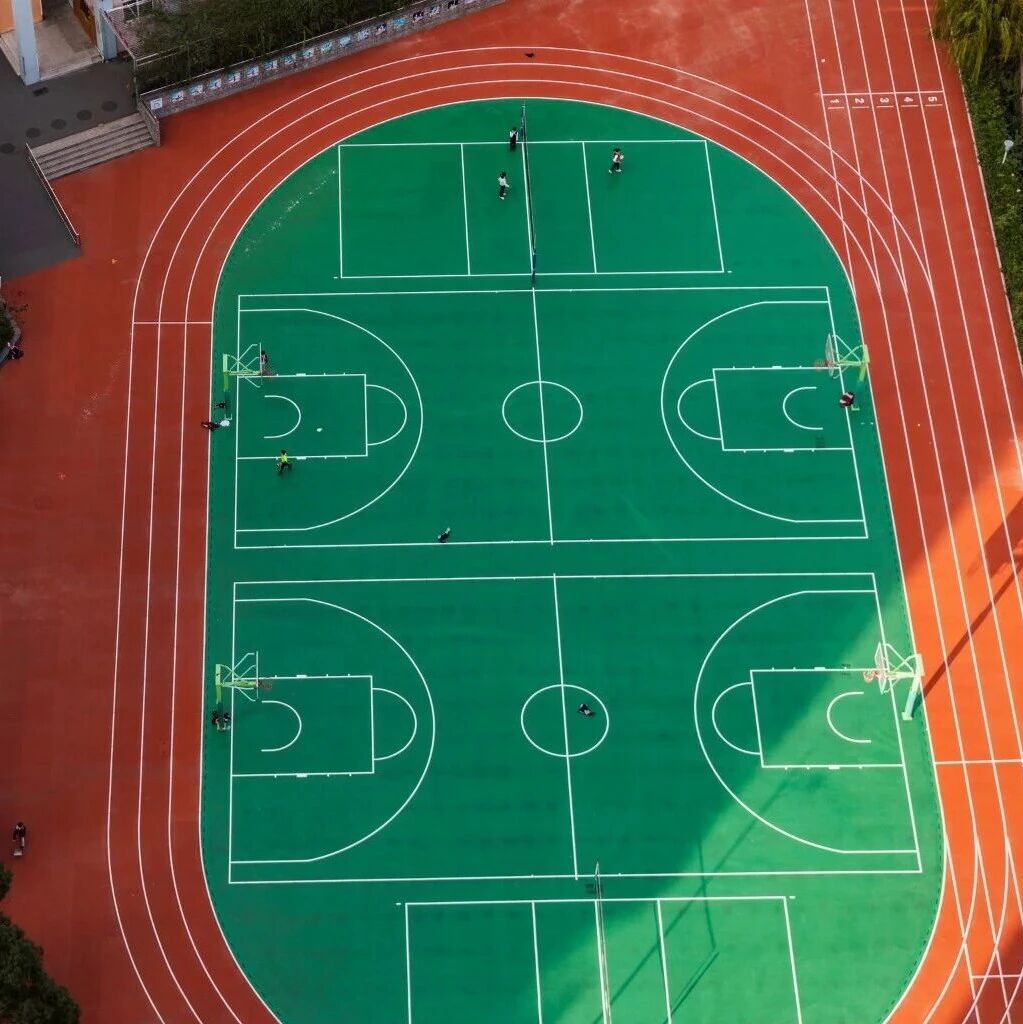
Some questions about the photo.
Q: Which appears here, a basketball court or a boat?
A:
basketball court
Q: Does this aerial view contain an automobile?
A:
No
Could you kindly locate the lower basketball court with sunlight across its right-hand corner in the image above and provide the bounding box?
[229,572,923,883]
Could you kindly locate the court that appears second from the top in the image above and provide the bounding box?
[234,286,868,548]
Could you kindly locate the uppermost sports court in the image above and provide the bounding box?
[332,139,732,278]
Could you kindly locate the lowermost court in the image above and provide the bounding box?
[395,896,802,1024]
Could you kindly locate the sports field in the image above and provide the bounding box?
[202,97,943,1024]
